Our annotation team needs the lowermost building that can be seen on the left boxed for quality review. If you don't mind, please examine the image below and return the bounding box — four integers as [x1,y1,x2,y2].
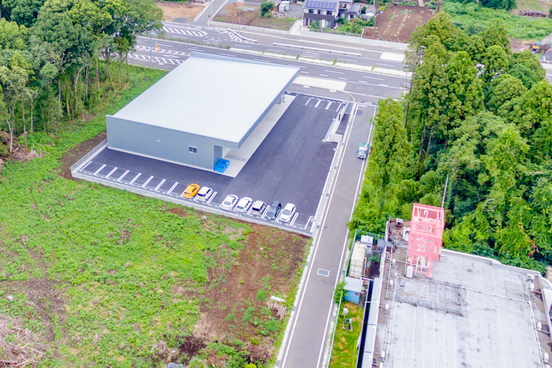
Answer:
[105,50,298,172]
